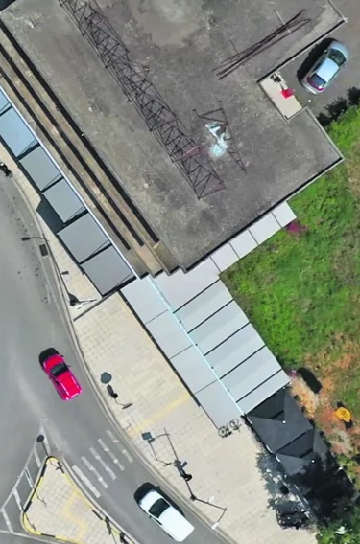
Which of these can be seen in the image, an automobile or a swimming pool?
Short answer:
automobile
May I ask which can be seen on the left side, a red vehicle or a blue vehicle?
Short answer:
red vehicle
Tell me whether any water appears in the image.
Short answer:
No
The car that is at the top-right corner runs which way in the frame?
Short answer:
on a diagonal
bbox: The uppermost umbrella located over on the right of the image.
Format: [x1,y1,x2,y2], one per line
[246,388,313,454]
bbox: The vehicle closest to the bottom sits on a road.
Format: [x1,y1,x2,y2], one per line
[139,490,193,543]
